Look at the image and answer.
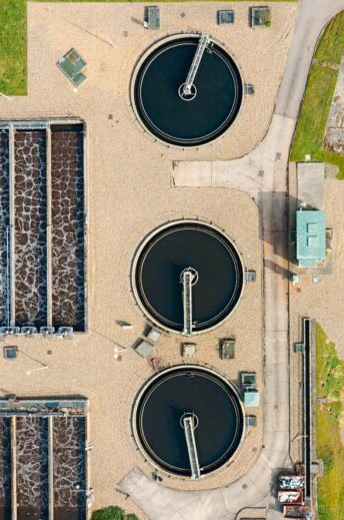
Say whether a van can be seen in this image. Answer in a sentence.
No, there's no van here.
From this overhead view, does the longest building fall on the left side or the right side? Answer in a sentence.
It is on the right.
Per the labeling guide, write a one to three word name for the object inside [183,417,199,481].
bridge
